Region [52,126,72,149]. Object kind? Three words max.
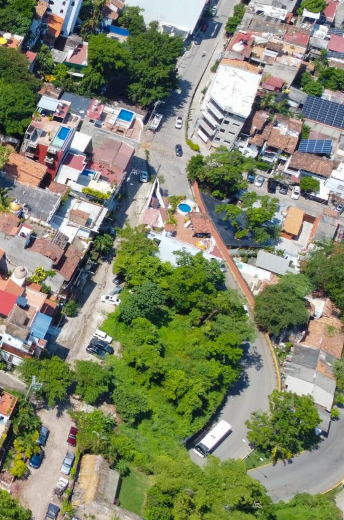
swimming pool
